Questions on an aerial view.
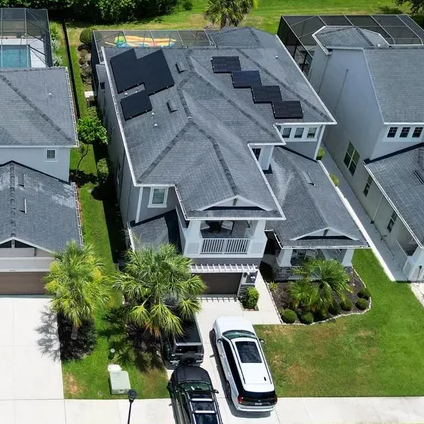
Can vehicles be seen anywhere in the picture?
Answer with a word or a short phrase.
Yes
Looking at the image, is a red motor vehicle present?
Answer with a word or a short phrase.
No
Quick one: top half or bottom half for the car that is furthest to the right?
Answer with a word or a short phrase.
bottom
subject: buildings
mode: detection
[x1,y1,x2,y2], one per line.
[0,65,85,292]
[102,29,373,298]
